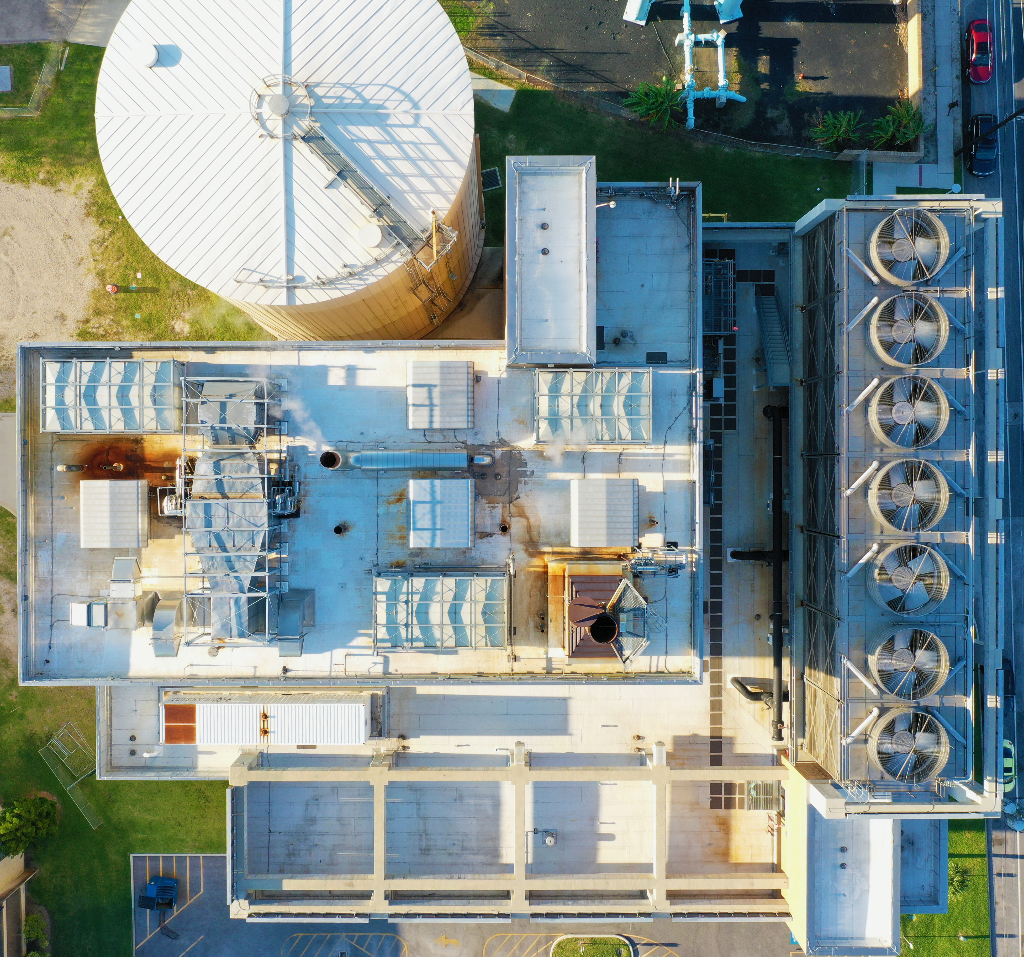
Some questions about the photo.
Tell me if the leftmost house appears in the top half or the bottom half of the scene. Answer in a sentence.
It is in the bottom half that the leftmost house appears.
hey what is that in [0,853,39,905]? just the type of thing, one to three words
house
